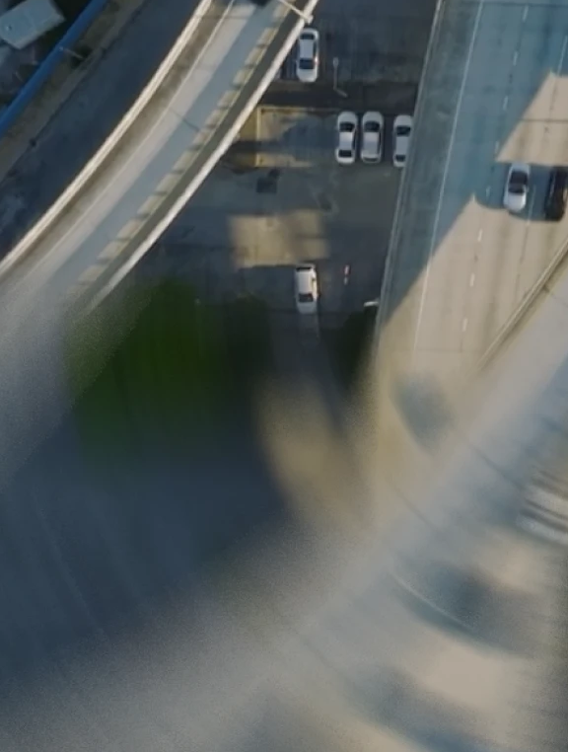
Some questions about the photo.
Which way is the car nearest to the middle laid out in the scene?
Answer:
vertically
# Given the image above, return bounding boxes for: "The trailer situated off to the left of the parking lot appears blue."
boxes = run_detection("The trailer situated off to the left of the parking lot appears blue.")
[0,0,70,50]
